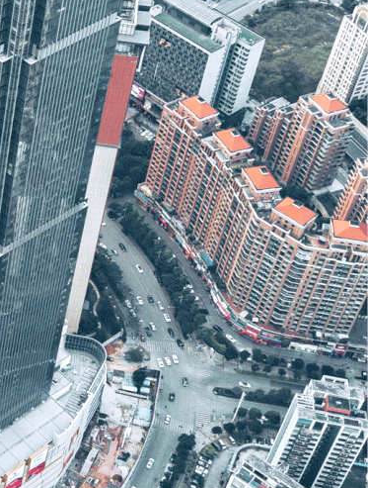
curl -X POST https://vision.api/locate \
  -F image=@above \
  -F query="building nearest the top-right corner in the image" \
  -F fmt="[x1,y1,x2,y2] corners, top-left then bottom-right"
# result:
[322,9,368,116]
